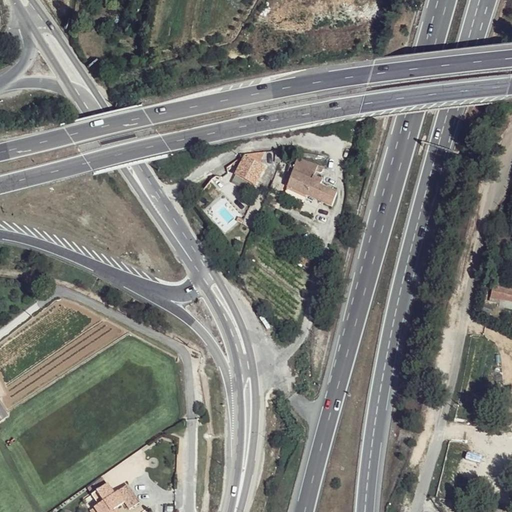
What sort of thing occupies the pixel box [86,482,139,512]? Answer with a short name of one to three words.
house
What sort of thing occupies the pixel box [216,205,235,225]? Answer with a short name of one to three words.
swimming pool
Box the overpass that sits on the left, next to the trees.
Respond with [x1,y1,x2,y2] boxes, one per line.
[64,103,172,176]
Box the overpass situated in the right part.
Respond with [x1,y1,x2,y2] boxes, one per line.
[358,42,512,119]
